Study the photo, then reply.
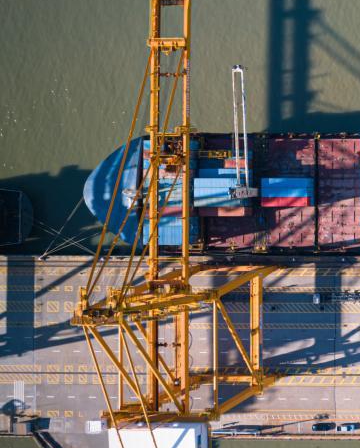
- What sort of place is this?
port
